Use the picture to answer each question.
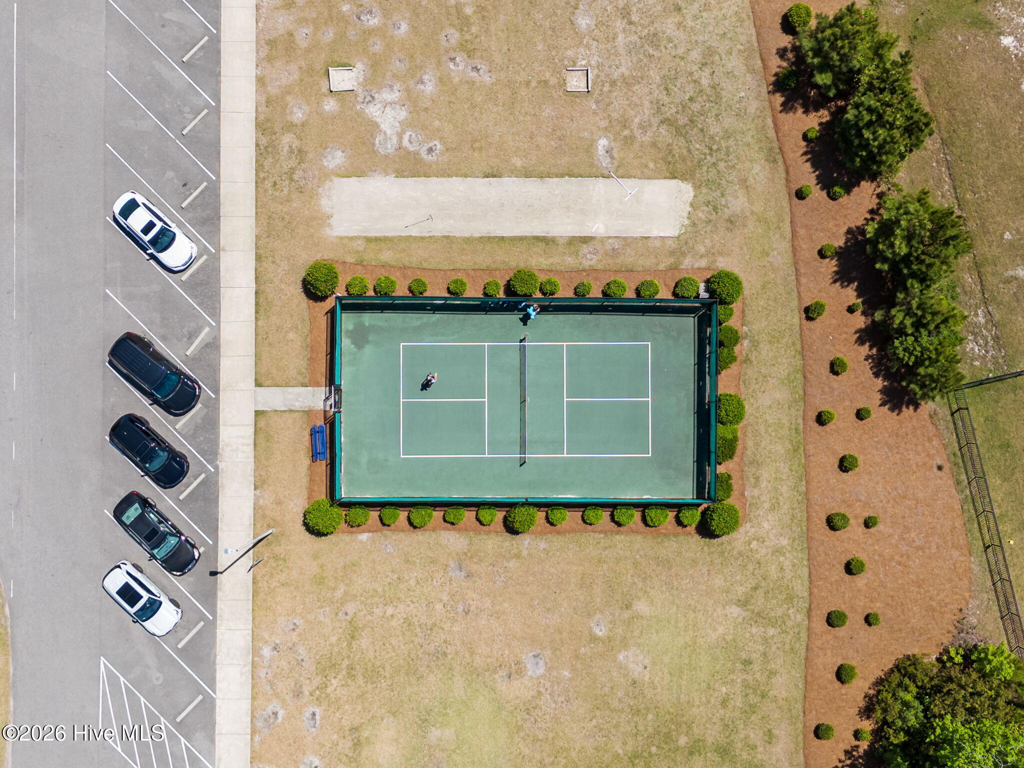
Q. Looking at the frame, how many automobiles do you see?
5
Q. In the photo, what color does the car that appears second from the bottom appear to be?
black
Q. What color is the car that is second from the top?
black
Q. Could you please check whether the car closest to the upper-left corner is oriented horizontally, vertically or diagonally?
diagonally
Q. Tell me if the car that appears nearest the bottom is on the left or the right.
left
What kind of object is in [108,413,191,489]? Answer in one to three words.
car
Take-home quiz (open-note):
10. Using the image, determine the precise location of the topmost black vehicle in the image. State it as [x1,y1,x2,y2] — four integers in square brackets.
[105,331,201,414]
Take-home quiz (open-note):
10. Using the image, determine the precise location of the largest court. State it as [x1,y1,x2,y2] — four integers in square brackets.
[341,299,710,498]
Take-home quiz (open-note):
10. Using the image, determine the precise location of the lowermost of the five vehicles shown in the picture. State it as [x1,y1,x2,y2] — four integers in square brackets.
[102,559,183,634]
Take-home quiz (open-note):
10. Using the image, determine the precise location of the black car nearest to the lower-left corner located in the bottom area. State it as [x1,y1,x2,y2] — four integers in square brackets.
[114,492,198,573]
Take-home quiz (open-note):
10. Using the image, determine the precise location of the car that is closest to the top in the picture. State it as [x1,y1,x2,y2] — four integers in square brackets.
[113,190,197,269]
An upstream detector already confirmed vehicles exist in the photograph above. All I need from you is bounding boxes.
[113,190,197,269]
[114,492,198,573]
[105,331,201,414]
[102,559,183,634]
[108,413,191,489]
